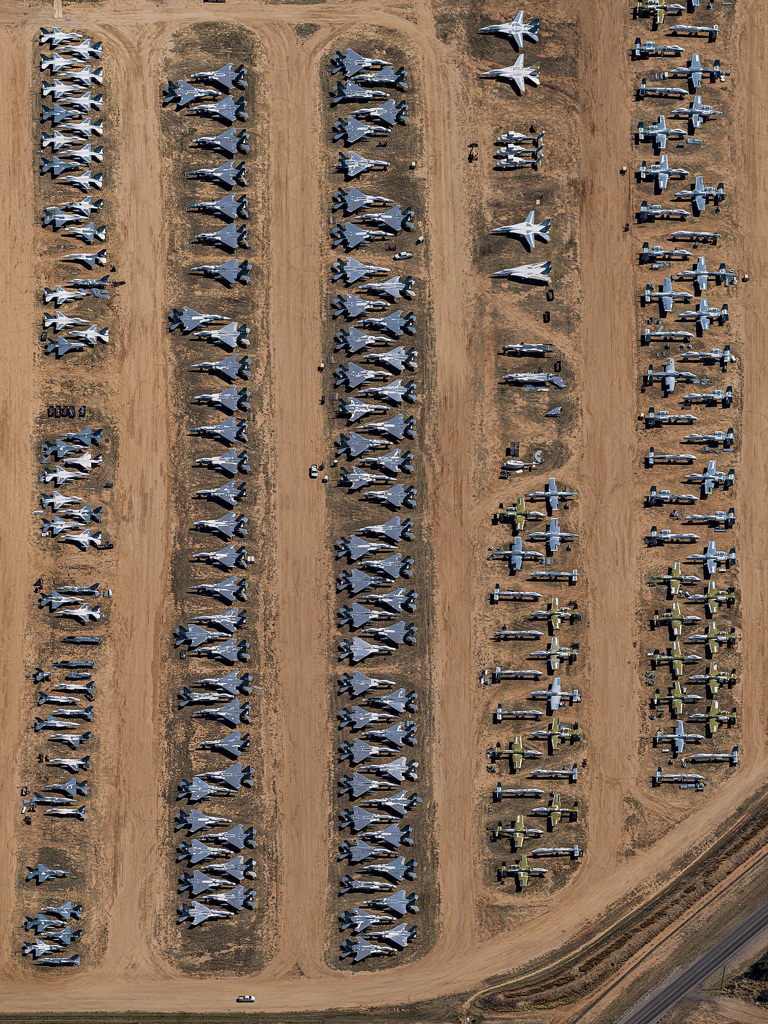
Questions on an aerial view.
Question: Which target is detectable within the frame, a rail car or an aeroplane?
aeroplane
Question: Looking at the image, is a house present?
No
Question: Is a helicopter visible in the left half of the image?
No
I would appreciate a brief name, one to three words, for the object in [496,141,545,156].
helicopter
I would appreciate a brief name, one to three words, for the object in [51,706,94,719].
airplane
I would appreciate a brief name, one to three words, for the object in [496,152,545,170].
helicopter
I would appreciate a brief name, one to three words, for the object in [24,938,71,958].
airplane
